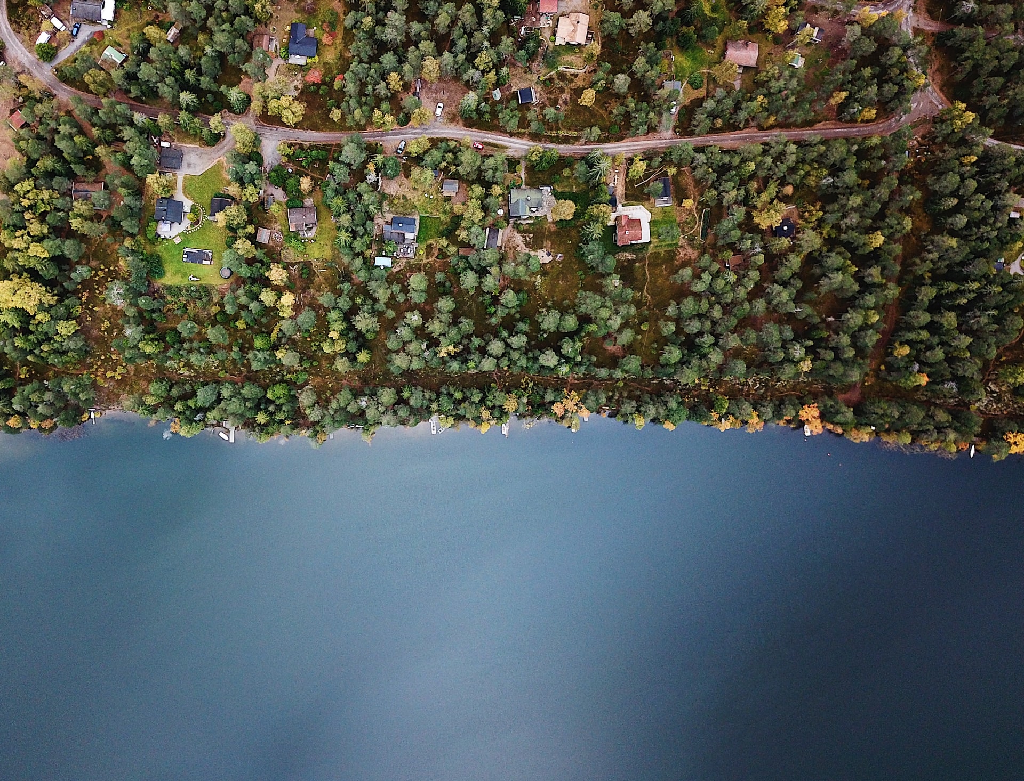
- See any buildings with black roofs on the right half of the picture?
Yes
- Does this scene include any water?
Yes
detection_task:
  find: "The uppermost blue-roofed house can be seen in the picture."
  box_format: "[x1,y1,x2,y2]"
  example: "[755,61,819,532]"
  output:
[288,21,320,70]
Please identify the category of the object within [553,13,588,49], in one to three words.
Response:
house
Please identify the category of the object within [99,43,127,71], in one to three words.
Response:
building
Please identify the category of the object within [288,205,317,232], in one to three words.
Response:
house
